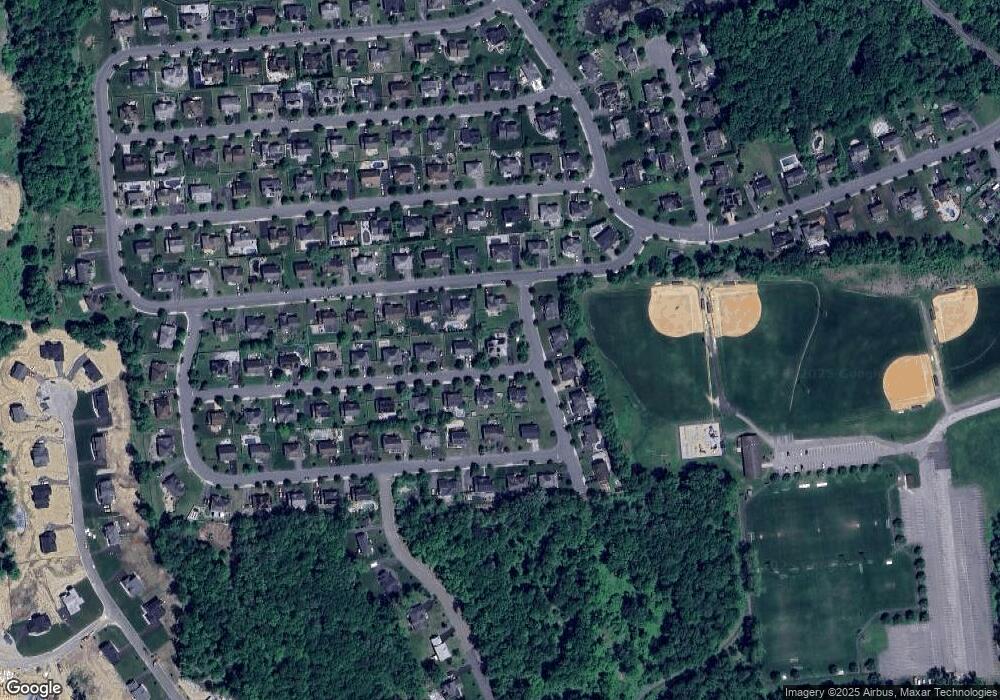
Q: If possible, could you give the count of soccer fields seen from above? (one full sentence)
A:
The count of soccer fields comes to 2.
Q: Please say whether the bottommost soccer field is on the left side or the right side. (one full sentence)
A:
It is on the right.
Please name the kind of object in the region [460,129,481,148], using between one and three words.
house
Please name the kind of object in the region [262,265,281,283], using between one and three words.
house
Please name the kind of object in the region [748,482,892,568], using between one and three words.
soccer field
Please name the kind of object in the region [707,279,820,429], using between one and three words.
baseball field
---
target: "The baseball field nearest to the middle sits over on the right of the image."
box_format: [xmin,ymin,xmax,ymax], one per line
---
[587,280,713,425]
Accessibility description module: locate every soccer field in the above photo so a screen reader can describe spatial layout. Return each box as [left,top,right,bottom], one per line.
[748,482,892,568]
[758,551,915,672]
